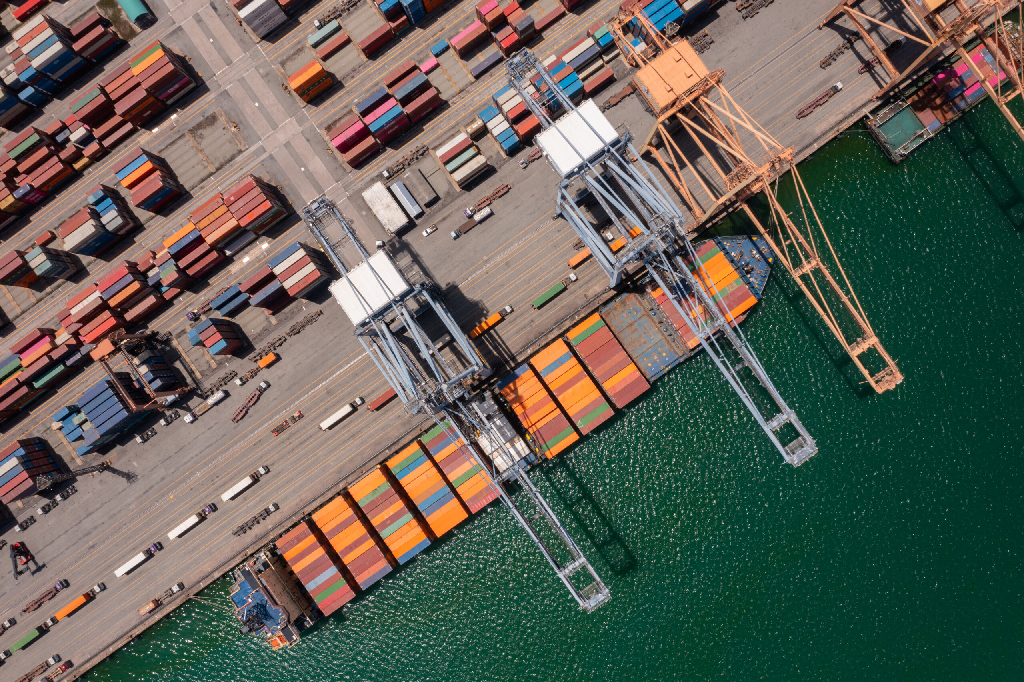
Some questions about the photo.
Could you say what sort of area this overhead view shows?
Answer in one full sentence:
It's a port.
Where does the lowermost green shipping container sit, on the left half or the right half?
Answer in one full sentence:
You can find the lowermost green shipping container on the left side of the picture.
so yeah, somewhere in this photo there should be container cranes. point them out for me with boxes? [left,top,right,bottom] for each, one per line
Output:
[811,0,1024,134]
[85,315,187,413]
[497,45,820,464]
[602,0,909,393]
[295,192,609,609]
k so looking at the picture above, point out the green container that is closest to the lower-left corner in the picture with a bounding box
[14,620,51,648]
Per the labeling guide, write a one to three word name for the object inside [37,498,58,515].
vehicle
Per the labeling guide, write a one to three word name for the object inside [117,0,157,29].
shed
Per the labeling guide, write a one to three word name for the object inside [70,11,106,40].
shipping container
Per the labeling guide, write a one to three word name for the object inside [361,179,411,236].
building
